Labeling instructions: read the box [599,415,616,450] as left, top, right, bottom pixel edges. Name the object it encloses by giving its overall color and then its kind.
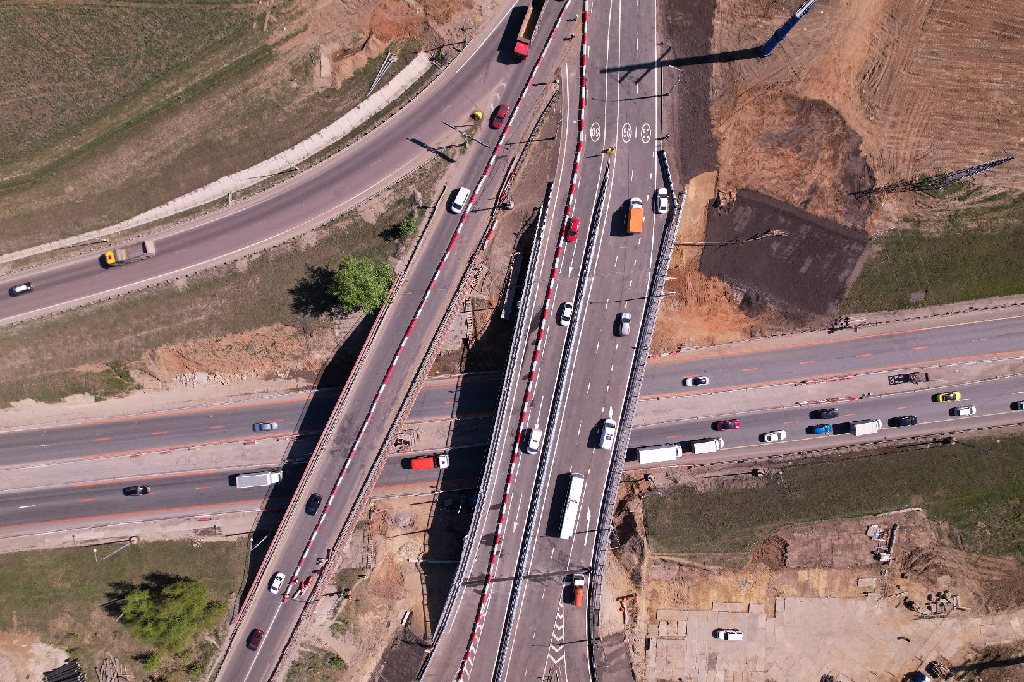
white vehicle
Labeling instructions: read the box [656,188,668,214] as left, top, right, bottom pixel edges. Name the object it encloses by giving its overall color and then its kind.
white vehicle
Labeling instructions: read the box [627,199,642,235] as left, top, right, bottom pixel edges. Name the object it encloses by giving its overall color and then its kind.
orange vehicle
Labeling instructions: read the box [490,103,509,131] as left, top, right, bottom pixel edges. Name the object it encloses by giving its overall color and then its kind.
red car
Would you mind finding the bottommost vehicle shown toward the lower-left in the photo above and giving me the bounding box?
[248,626,264,650]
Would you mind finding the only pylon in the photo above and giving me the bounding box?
[932,152,1018,189]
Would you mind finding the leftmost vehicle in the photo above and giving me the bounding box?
[11,282,35,294]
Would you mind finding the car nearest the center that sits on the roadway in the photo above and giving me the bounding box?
[561,301,573,327]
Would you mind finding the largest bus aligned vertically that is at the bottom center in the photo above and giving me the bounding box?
[559,468,587,540]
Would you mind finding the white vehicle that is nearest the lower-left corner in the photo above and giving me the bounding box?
[269,569,286,595]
